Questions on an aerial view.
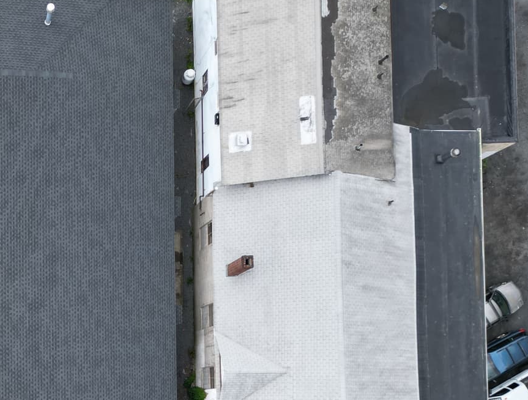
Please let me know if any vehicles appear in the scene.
Yes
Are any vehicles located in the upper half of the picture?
No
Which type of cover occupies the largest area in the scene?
buildings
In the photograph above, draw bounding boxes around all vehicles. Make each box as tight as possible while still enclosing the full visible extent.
[489,368,528,400]
[489,330,528,392]
[487,279,527,331]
